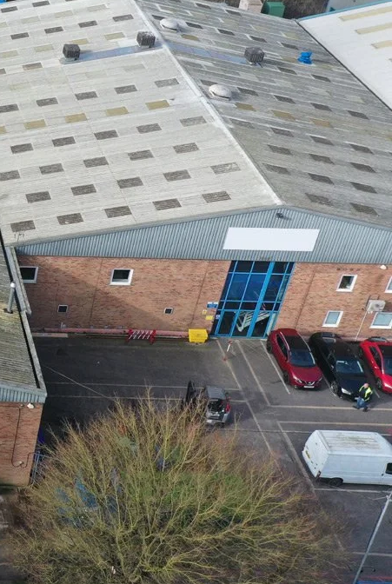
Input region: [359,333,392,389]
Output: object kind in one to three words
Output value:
car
